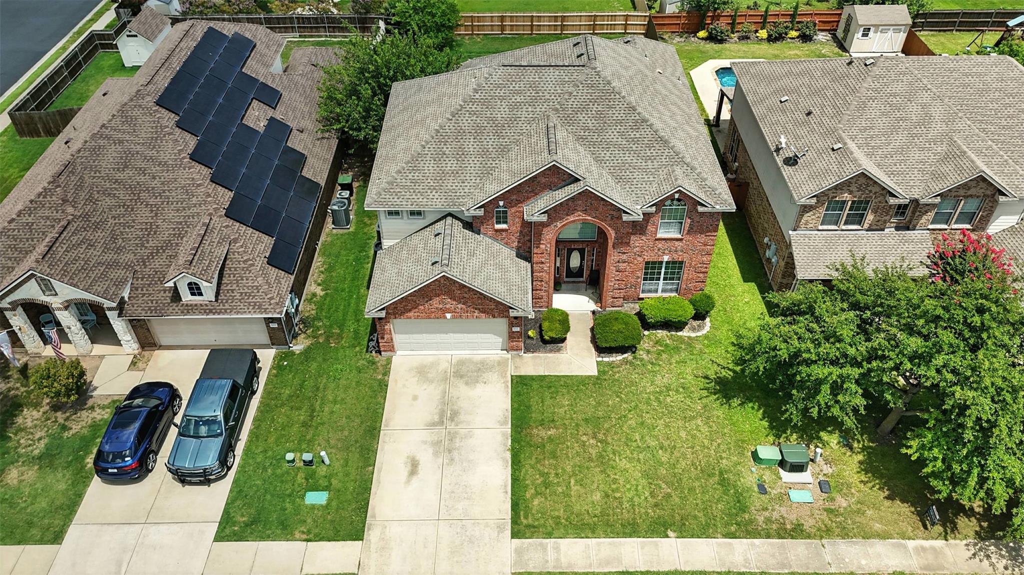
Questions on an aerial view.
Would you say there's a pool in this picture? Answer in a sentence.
Yes, the picture does show a pool.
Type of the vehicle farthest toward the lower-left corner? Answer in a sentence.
The vehicle farthest toward the lower-left corner appears to be an automobile.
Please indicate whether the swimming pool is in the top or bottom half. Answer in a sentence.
Seen from above, the swimming pool lies in the top half of the view.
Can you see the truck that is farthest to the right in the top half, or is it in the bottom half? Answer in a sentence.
The truck that is farthest to the right is in the bottom half of the image.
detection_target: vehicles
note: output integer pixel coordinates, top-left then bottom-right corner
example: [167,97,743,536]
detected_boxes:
[164,345,256,484]
[92,382,180,482]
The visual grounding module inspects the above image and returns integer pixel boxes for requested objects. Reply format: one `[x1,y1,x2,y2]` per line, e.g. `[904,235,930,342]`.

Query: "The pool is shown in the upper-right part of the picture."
[689,58,822,149]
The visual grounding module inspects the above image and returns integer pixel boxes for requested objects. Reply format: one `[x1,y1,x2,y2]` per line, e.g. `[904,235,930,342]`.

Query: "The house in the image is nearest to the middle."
[363,34,738,359]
